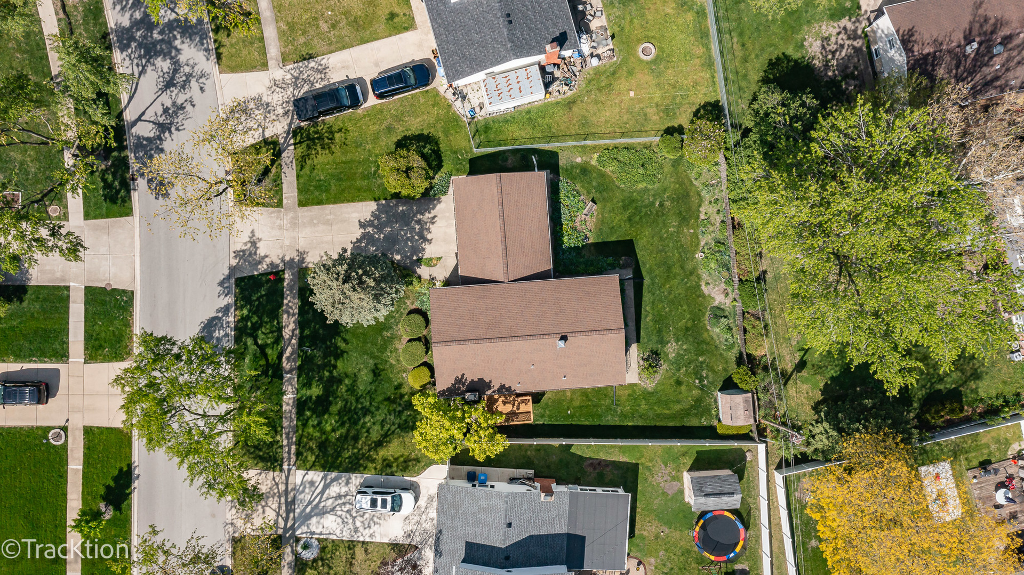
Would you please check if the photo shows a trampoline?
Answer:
Yes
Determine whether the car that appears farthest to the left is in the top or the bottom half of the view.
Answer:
bottom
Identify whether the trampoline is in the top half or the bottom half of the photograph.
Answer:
bottom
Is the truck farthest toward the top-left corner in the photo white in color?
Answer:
No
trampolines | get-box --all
[686,509,750,567]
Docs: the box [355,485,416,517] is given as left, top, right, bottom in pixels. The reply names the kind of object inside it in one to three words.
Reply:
car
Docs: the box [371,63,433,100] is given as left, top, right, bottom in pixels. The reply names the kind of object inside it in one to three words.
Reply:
car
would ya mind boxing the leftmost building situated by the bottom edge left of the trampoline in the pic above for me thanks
[432,471,631,575]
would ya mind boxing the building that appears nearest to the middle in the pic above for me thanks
[429,155,633,405]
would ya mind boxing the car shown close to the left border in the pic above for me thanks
[0,381,52,408]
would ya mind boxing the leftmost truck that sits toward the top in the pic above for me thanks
[294,83,368,123]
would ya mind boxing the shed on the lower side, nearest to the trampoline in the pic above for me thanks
[682,470,742,512]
